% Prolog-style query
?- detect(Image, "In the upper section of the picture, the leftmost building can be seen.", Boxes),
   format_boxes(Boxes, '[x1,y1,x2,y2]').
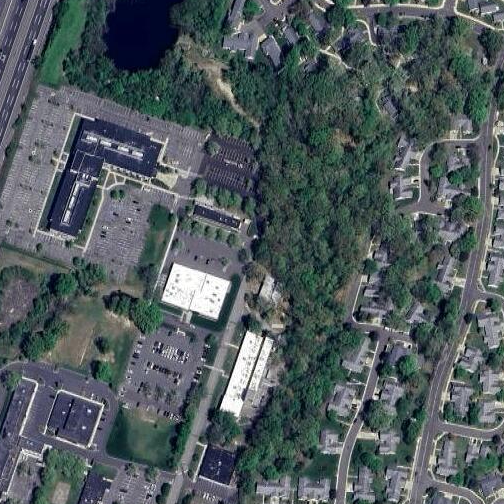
[49,117,164,240]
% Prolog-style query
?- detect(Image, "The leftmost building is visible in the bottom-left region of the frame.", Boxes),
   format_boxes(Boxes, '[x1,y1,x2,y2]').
[0,381,46,499]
